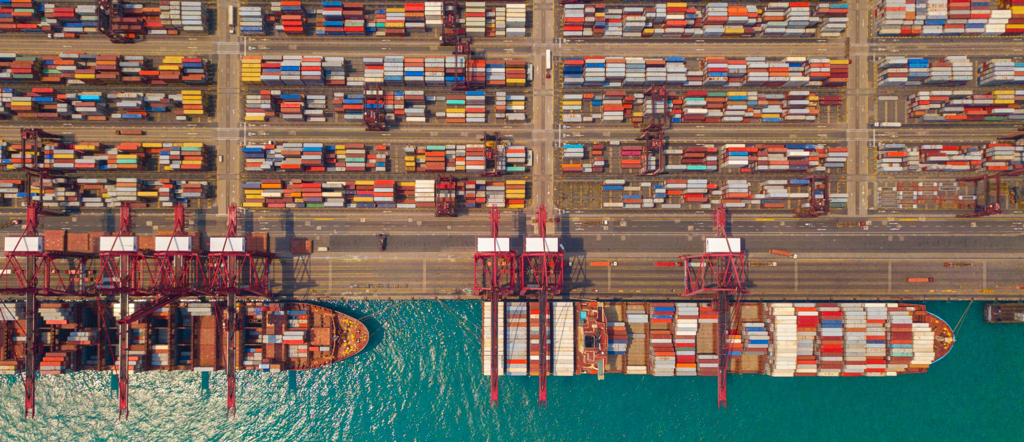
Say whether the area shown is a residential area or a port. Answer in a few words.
port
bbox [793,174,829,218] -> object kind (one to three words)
crane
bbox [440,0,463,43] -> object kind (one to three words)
crane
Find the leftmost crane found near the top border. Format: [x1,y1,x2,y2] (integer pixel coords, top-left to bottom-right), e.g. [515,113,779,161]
[97,0,135,43]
